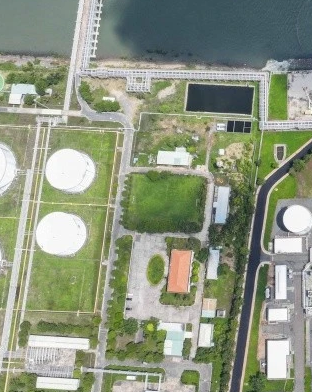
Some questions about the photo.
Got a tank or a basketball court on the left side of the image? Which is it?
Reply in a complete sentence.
It is a tank that can be seen on the left side of the image.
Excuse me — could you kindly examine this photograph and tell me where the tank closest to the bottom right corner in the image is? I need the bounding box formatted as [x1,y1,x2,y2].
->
[283,203,312,237]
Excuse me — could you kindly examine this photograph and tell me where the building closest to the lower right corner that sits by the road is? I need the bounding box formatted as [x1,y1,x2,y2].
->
[267,339,290,379]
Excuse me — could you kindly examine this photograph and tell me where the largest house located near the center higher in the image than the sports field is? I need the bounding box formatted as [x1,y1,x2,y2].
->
[157,152,194,167]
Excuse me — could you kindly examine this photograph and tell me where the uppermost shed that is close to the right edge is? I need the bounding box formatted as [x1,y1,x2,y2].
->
[274,238,303,253]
